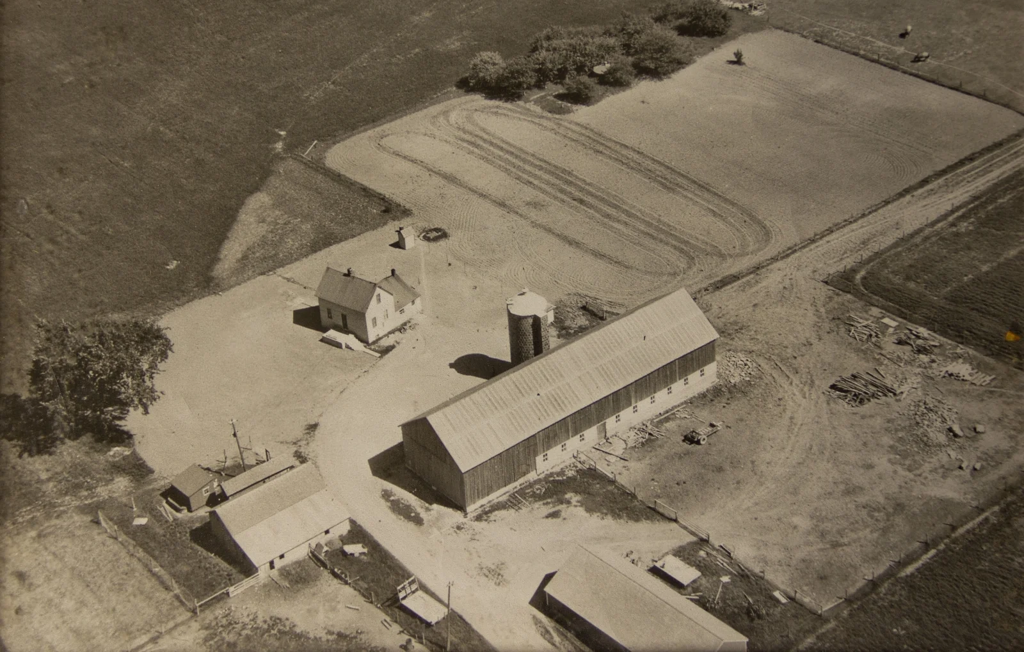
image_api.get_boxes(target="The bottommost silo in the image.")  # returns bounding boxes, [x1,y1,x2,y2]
[505,289,557,371]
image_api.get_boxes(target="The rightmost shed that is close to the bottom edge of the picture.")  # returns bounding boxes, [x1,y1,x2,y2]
[543,545,749,652]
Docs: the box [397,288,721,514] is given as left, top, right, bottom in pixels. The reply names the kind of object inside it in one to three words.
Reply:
barn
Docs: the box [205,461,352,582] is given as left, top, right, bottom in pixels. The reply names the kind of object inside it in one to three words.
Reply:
barn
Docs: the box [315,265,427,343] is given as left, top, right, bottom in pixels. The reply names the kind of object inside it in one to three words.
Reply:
house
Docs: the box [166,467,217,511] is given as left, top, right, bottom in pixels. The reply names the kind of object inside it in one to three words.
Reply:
shed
